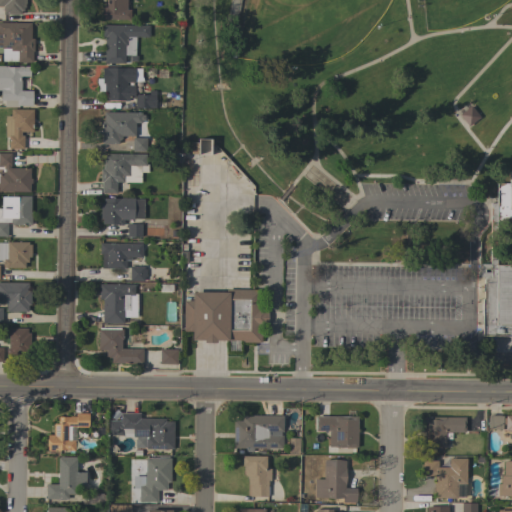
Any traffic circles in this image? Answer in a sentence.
No, there appears to be no traffic circle in this shot.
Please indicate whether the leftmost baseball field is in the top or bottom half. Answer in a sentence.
The leftmost baseball field sits in the top half of the picture.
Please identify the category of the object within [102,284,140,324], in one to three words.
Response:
house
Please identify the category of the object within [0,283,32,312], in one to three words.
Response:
house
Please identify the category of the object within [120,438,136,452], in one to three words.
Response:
swimming pool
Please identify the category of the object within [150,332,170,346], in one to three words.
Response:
swimming pool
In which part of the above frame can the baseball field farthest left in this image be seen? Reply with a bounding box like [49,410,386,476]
[232,0,390,64]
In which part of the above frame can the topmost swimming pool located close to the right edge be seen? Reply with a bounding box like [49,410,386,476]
[490,432,502,453]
